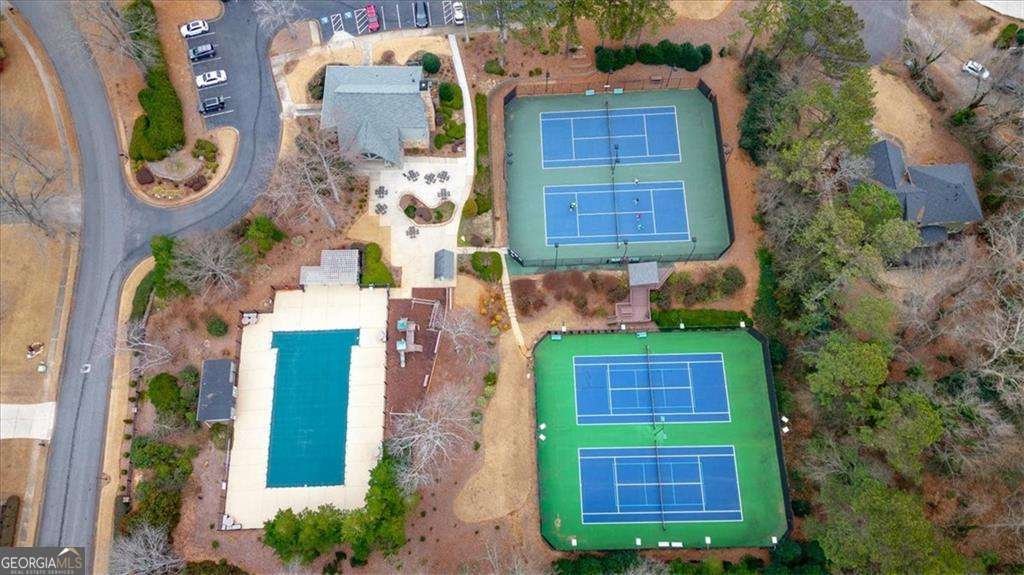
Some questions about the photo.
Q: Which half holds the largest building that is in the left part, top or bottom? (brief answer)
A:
top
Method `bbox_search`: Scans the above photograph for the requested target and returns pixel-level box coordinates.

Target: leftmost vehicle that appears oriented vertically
[366,5,379,33]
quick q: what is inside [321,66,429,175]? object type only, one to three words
building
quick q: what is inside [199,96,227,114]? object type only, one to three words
car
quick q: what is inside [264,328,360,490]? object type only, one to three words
swimming pool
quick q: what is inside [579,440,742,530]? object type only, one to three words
tennis court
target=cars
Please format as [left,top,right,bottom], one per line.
[182,22,208,37]
[452,2,465,26]
[198,72,226,87]
[199,96,227,114]
[190,44,217,61]
[366,5,379,33]
[415,1,428,27]
[960,59,991,80]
